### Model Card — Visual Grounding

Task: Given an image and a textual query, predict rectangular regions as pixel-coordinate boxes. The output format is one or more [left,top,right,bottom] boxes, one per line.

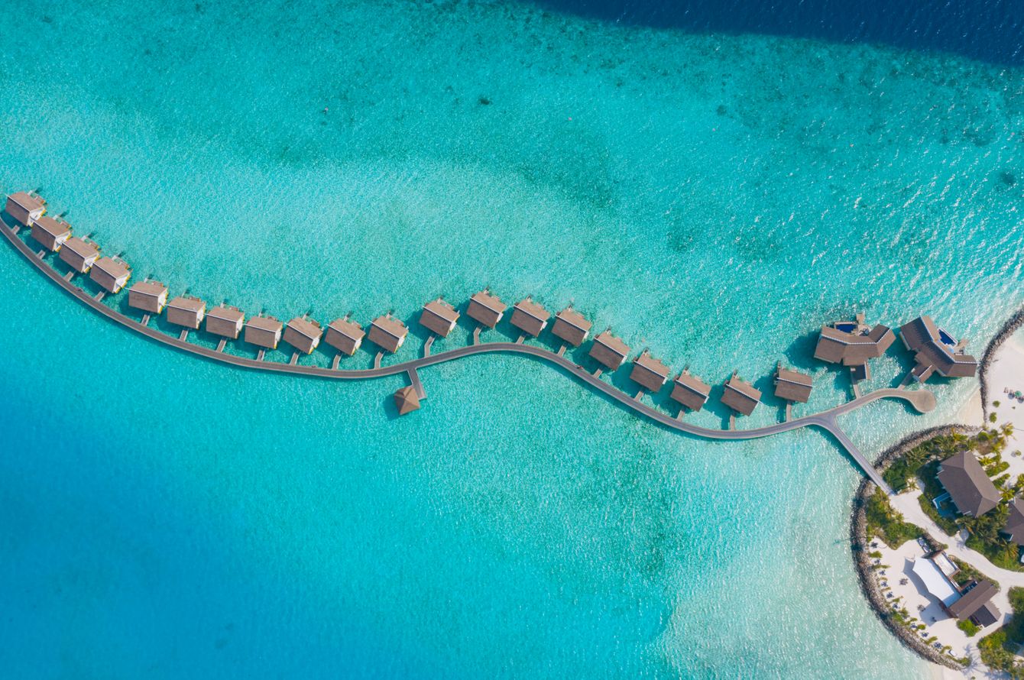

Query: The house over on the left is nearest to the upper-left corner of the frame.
[5,189,49,227]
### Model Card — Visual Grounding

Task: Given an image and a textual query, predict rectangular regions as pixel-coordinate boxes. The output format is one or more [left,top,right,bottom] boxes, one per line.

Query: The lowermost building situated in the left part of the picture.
[394,387,420,415]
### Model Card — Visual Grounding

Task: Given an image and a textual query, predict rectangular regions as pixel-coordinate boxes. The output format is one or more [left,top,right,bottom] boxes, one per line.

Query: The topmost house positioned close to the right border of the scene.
[935,451,1001,517]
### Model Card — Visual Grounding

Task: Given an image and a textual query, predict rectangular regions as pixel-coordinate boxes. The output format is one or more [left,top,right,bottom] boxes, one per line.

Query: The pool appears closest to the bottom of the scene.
[935,493,964,519]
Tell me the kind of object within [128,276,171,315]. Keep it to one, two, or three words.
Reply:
house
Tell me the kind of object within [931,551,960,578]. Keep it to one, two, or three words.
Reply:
building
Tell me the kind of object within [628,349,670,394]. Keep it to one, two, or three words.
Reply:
house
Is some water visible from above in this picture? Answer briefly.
Yes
